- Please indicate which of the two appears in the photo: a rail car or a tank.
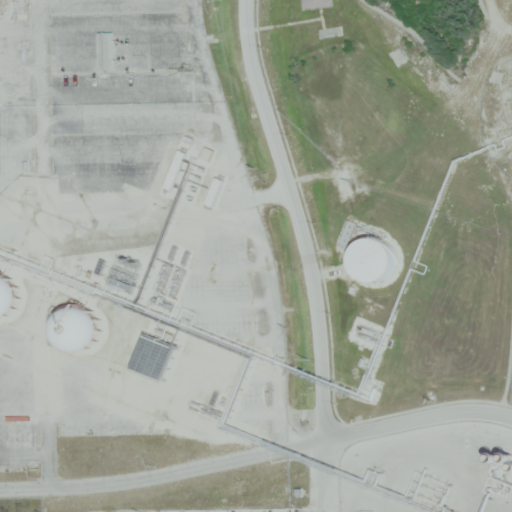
tank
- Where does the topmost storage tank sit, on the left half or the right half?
right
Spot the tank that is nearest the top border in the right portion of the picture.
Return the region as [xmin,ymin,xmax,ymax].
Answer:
[344,230,398,284]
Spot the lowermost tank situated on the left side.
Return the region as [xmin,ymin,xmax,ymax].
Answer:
[46,298,106,356]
